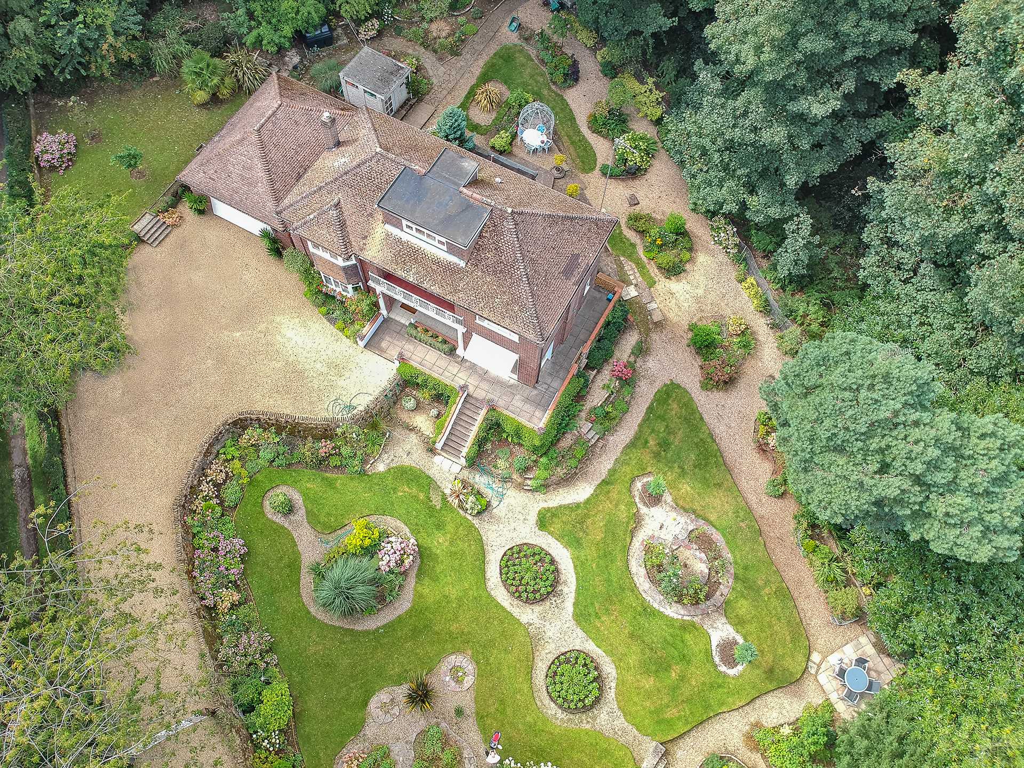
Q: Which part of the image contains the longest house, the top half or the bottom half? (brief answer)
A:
top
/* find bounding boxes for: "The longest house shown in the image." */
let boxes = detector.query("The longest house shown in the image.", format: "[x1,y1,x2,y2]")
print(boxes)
[176,74,627,383]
